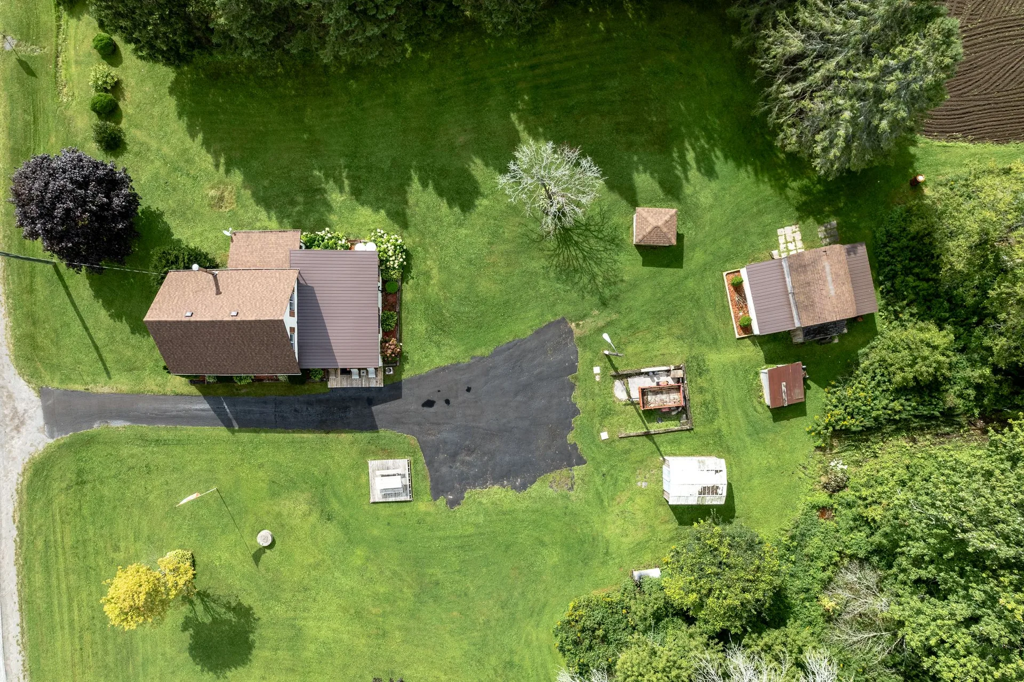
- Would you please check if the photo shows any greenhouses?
Yes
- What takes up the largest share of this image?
grass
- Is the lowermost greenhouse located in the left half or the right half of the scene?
right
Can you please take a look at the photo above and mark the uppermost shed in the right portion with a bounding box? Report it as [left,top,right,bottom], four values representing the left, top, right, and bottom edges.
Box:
[632,207,679,247]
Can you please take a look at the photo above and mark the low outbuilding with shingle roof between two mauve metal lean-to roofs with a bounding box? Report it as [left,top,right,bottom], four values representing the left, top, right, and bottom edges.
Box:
[742,242,878,342]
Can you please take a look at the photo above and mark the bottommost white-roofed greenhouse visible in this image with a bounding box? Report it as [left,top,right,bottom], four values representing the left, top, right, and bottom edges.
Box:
[661,456,728,504]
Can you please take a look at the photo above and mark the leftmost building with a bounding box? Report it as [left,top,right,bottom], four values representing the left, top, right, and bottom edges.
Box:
[144,225,384,376]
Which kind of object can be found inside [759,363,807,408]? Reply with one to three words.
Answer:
shed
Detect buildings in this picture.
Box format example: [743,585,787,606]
[632,207,679,247]
[661,456,728,504]
[144,225,384,376]
[742,242,878,342]
[759,363,807,408]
